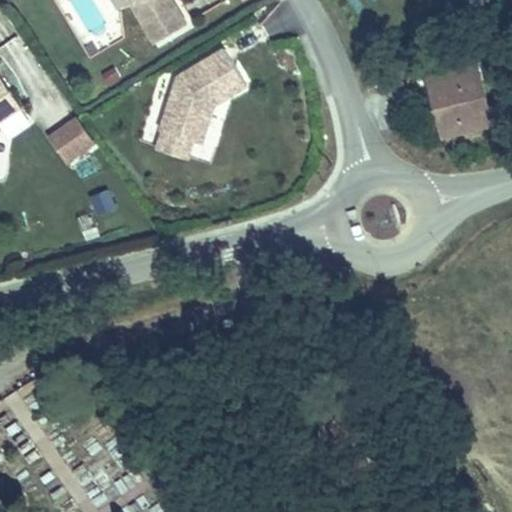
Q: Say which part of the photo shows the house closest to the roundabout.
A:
top right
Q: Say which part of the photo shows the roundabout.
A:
right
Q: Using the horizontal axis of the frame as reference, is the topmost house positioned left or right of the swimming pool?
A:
to its right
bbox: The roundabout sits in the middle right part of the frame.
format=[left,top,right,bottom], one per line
[334,167,434,267]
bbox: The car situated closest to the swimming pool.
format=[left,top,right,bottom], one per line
[238,34,256,48]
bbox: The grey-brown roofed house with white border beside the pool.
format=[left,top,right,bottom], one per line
[120,0,194,48]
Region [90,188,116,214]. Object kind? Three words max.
shed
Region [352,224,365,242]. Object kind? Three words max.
vehicle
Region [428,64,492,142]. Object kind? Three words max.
house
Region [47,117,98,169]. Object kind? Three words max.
building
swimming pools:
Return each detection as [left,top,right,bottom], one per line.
[54,0,126,58]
